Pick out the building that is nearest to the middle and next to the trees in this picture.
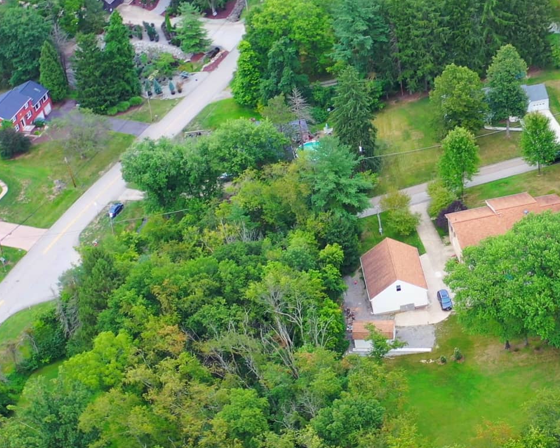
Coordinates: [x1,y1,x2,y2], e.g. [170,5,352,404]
[282,118,313,143]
